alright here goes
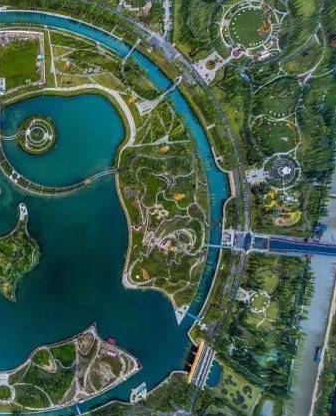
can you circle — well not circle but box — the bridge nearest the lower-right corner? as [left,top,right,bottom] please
[184,339,215,389]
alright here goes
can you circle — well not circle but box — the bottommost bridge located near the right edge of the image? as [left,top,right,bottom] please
[252,235,336,259]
